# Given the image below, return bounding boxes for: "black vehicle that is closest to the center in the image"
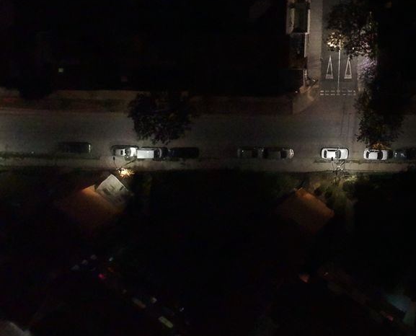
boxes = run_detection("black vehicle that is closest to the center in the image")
[169,148,197,161]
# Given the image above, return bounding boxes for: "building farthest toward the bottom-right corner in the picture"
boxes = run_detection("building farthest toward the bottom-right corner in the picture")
[204,185,337,336]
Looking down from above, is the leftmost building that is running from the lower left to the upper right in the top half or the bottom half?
bottom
